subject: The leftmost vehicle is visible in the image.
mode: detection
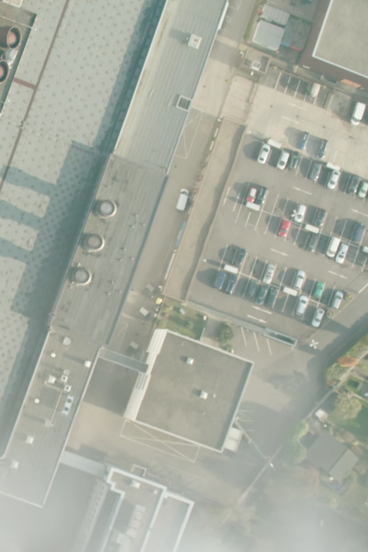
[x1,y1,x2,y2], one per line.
[174,189,189,211]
